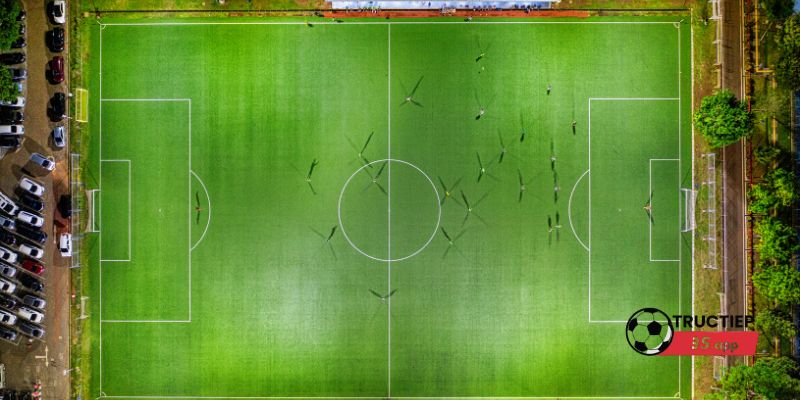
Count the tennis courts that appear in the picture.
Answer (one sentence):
No tennis courts are visible.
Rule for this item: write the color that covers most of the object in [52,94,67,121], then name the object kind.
black vehicle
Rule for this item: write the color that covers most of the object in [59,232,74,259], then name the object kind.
white vehicle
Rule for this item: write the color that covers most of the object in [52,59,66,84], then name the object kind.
red car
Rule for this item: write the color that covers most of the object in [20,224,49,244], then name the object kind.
black car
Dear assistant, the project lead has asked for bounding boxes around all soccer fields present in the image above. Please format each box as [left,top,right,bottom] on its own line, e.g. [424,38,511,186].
[89,16,692,400]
